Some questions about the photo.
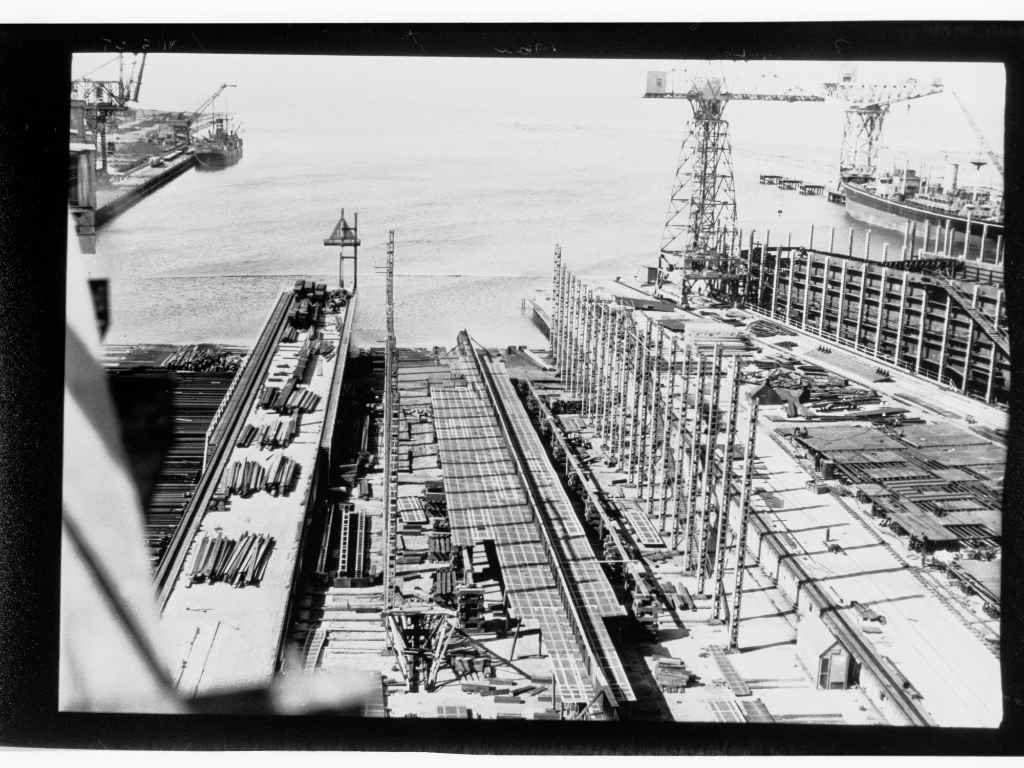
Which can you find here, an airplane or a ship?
ship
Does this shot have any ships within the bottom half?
No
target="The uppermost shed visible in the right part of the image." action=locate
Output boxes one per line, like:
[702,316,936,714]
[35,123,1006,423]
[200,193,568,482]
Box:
[641,260,662,283]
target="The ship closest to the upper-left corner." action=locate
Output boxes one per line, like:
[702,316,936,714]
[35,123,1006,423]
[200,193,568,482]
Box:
[194,107,236,167]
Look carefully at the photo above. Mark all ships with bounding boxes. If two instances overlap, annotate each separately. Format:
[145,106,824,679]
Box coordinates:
[194,107,236,167]
[846,153,1024,253]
